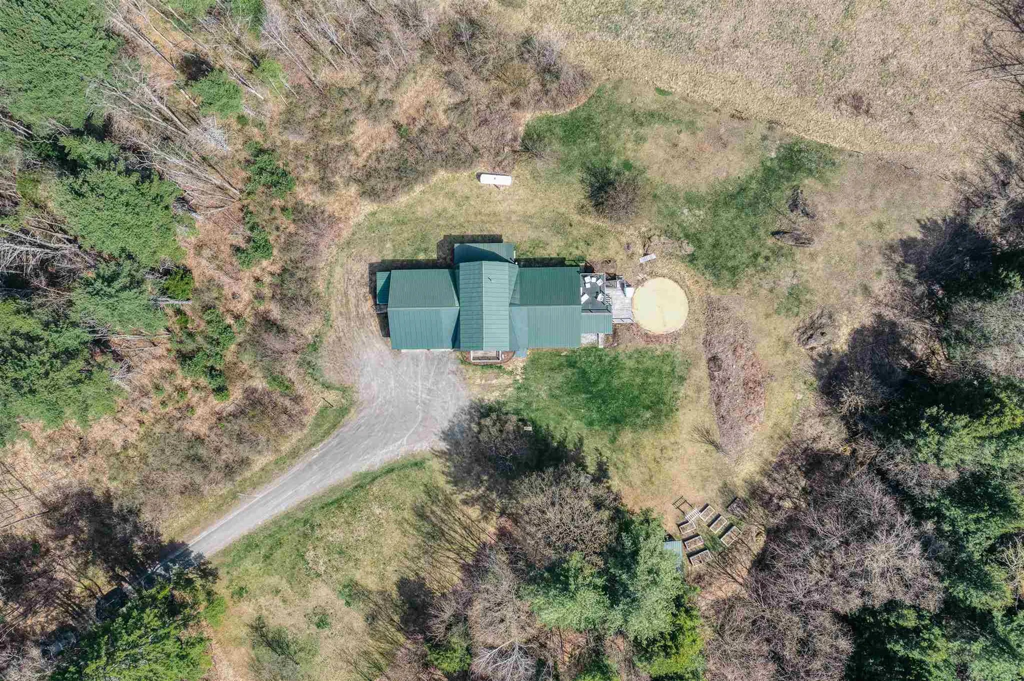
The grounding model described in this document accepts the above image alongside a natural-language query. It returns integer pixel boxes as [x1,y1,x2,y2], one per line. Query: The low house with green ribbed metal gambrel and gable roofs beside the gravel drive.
[376,243,612,357]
